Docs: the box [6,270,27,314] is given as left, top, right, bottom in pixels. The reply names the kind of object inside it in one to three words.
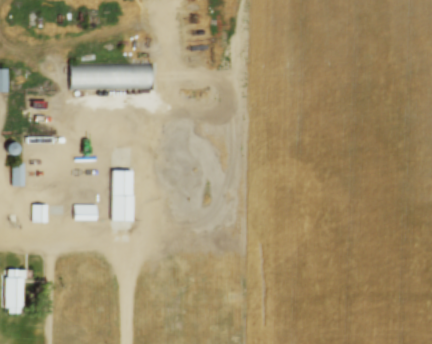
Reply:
house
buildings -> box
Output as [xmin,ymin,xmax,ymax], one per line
[32,205,48,224]
[0,68,8,92]
[111,170,134,221]
[74,205,98,222]
[6,270,27,314]
[70,66,154,90]
[12,164,24,186]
